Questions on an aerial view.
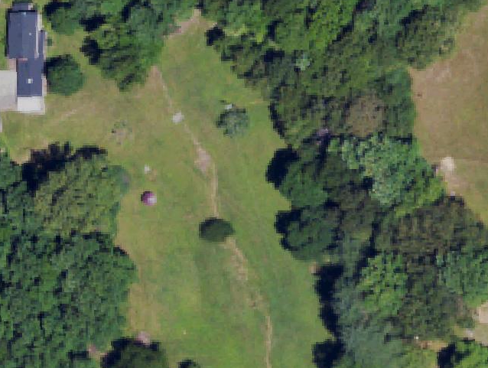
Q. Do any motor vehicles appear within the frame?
No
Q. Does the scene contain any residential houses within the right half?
No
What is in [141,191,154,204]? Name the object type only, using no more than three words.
umbrella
